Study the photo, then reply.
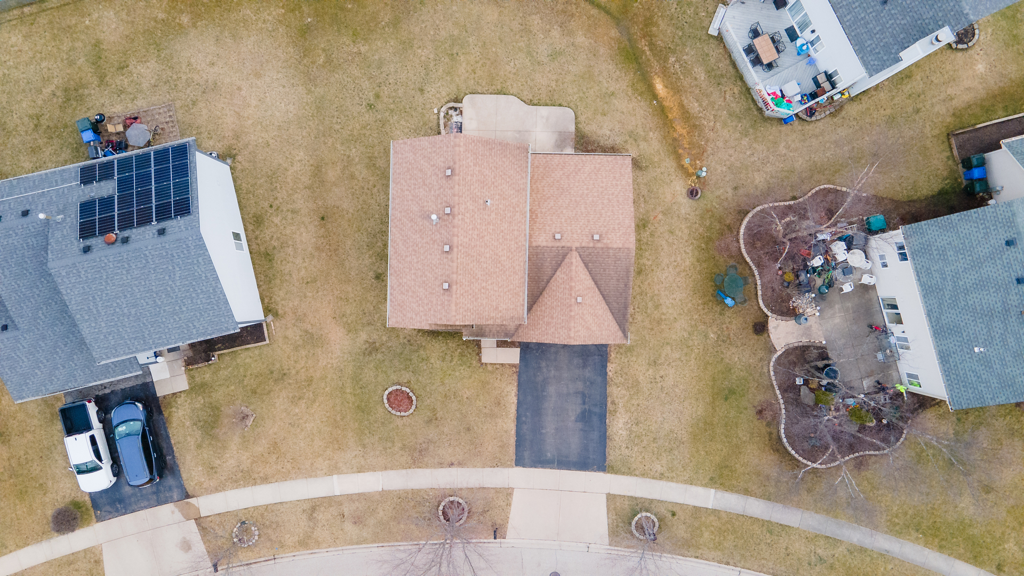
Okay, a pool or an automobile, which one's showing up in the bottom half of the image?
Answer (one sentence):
The feature located in the bottom half of the image is an automobile.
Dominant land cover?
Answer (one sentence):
Most of the picture is covered by grass.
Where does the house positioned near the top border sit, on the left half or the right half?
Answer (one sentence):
The house positioned near the top border sits on the right side.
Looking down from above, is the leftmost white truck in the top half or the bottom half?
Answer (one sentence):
Seen from above, the leftmost white truck lies in the bottom half of the view.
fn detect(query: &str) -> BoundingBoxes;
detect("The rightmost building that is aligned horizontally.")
[784,0,1006,102]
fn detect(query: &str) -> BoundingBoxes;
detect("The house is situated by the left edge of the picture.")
[0,137,270,406]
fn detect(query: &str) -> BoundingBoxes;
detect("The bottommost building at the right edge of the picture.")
[868,133,1024,410]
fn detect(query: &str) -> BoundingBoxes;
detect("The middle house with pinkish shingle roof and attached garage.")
[385,134,635,344]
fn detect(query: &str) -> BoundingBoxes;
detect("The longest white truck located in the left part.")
[60,396,119,495]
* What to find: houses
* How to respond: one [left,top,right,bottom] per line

[868,133,1024,410]
[784,0,1006,102]
[0,137,270,406]
[385,134,635,344]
